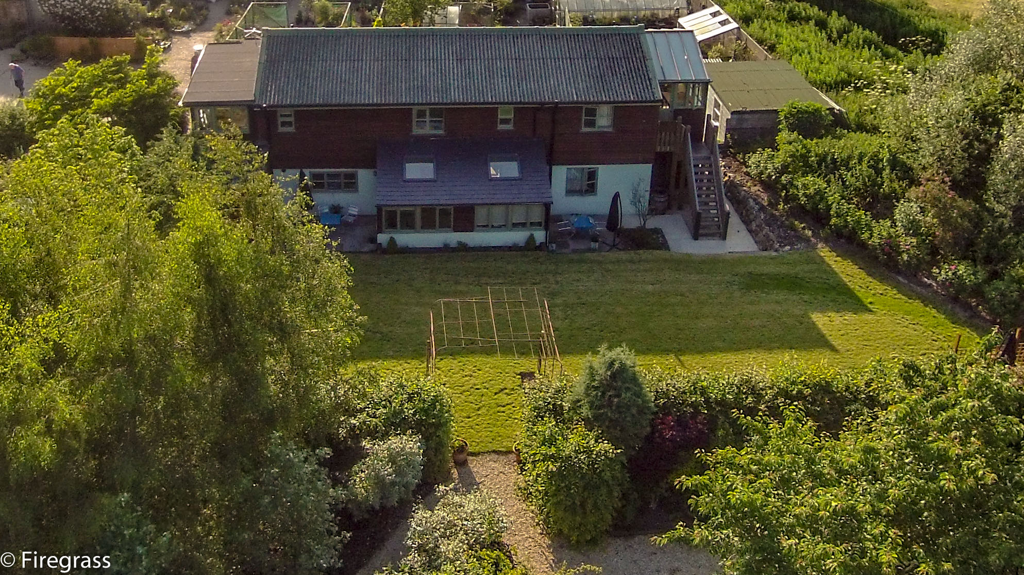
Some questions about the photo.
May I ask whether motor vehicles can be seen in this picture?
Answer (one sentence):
No, there's no motor vehicle here.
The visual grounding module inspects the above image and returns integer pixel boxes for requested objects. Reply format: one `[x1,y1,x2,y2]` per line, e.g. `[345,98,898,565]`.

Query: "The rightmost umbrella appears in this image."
[604,196,622,250]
